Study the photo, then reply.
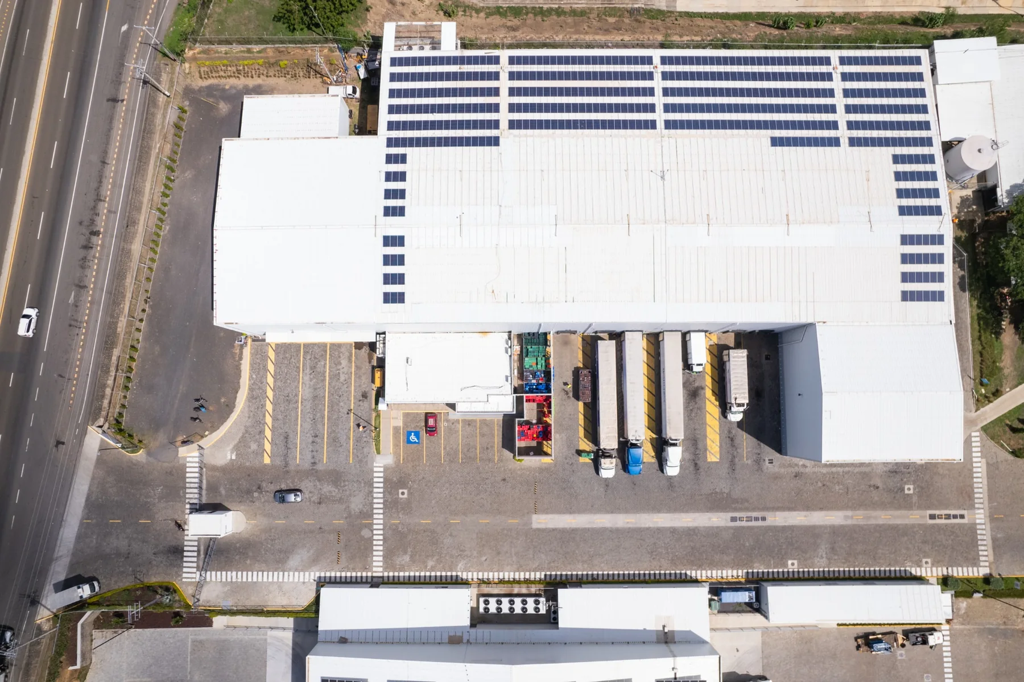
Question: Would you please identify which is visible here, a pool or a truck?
truck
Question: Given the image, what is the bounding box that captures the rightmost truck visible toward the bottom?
[910,632,946,653]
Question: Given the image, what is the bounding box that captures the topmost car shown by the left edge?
[14,307,38,336]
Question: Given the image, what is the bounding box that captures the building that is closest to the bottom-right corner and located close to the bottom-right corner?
[753,577,952,623]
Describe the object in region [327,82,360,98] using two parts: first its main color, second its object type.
white vehicle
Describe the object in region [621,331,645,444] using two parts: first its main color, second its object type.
white trailer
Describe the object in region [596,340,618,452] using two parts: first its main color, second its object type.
white trailer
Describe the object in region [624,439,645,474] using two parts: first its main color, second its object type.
blue truck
